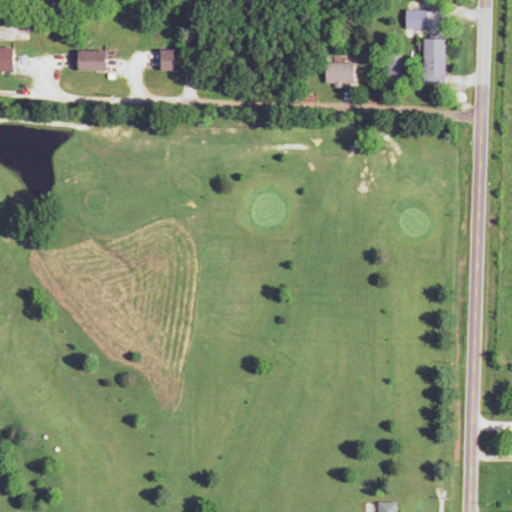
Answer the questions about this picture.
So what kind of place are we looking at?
golf course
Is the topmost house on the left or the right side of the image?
right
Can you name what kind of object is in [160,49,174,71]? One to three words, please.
house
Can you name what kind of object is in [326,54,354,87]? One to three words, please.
house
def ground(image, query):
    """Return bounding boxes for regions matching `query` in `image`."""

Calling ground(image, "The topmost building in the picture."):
[406,10,438,30]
